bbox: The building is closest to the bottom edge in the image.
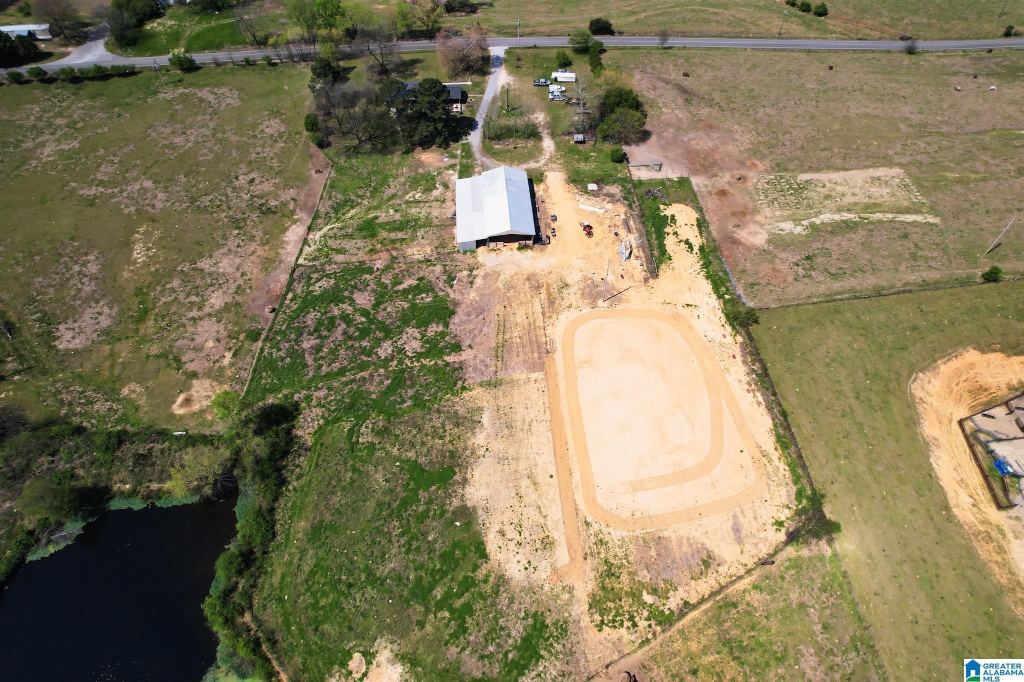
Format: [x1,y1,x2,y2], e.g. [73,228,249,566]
[452,163,535,251]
